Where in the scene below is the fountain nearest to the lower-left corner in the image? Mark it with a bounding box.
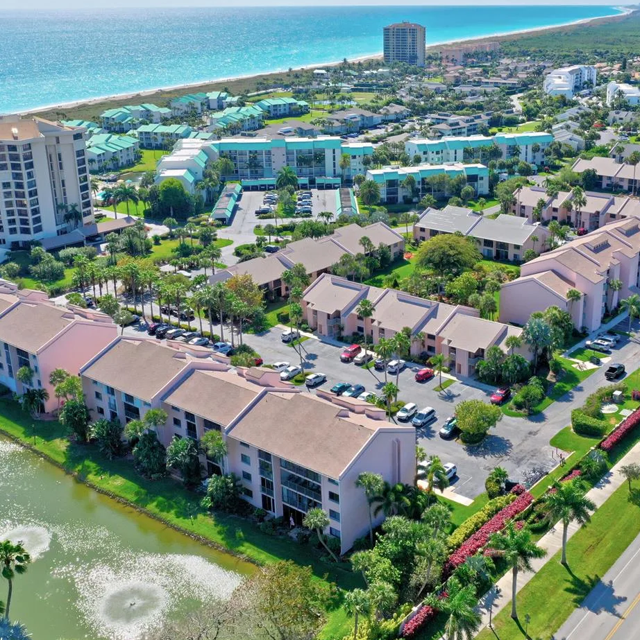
[0,528,61,573]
